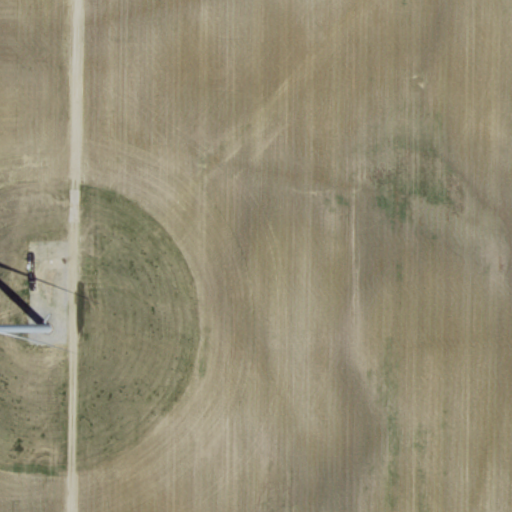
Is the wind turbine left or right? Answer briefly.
left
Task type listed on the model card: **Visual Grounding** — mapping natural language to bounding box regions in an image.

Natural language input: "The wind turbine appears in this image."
[0,314,71,350]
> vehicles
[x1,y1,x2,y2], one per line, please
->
[27,252,34,271]
[28,272,36,290]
